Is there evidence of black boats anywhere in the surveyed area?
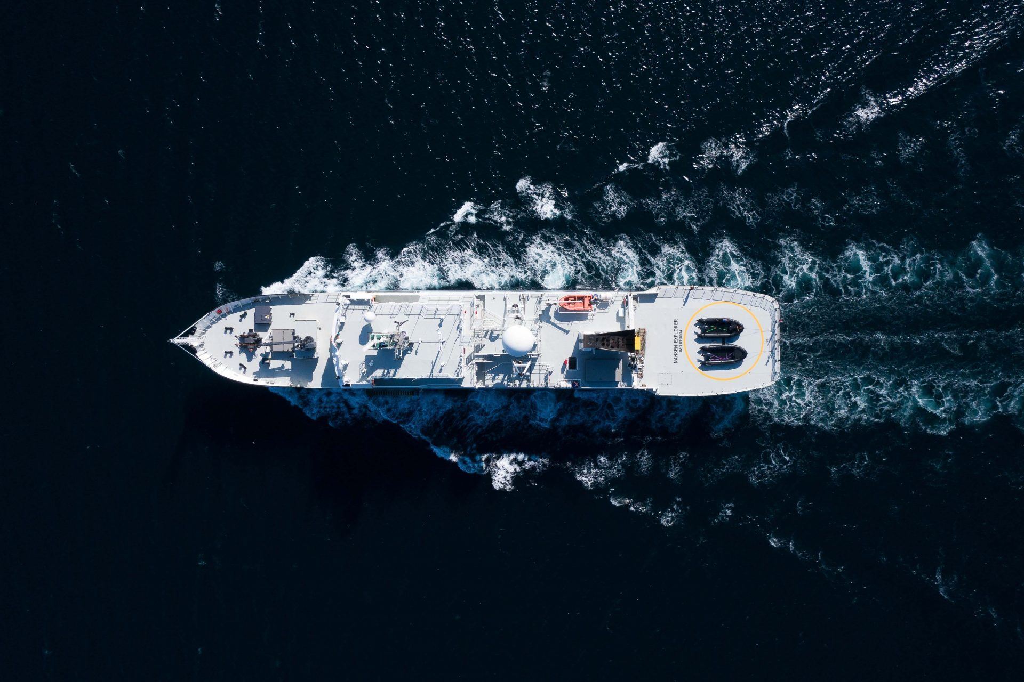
Yes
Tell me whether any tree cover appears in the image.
No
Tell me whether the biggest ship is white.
Yes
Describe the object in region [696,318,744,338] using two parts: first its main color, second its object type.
black boat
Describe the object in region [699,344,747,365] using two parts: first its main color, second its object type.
black boat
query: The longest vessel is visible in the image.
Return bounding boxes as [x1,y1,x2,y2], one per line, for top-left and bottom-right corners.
[170,286,790,399]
